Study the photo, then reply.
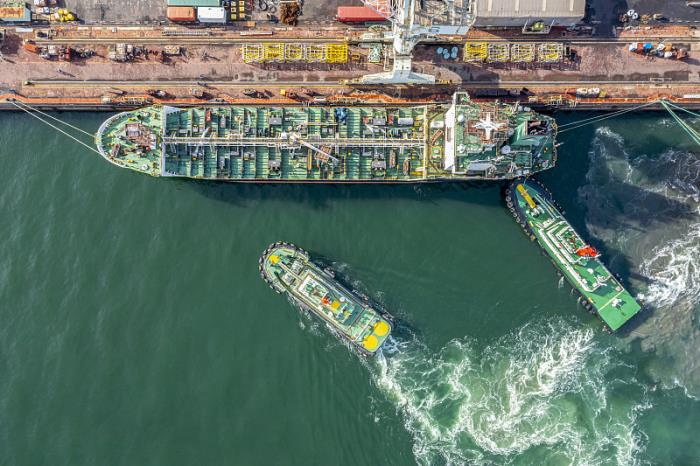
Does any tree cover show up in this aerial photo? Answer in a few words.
No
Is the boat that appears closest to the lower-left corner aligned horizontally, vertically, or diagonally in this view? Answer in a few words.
diagonally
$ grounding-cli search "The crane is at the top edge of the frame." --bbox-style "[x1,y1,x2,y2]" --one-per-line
[360,0,481,85]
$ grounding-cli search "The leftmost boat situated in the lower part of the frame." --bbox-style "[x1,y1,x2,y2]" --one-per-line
[261,241,397,358]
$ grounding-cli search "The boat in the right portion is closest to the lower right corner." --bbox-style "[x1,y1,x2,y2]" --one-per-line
[506,176,645,329]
